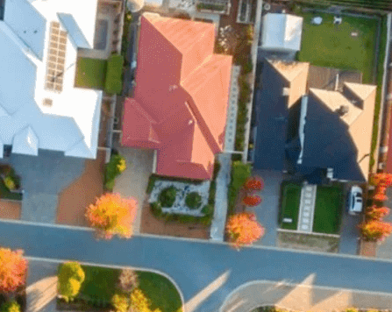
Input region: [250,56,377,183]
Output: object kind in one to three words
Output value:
house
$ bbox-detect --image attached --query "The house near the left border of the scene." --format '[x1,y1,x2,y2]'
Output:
[0,0,103,161]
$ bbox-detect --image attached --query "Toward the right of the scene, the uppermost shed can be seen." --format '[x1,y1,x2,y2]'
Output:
[257,13,306,52]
